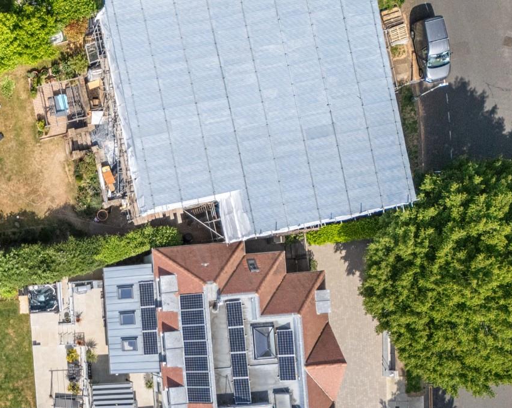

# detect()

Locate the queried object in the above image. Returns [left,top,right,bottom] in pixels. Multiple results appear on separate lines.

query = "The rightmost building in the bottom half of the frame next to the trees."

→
[140,242,348,408]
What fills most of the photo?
buildings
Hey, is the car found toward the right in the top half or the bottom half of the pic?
top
